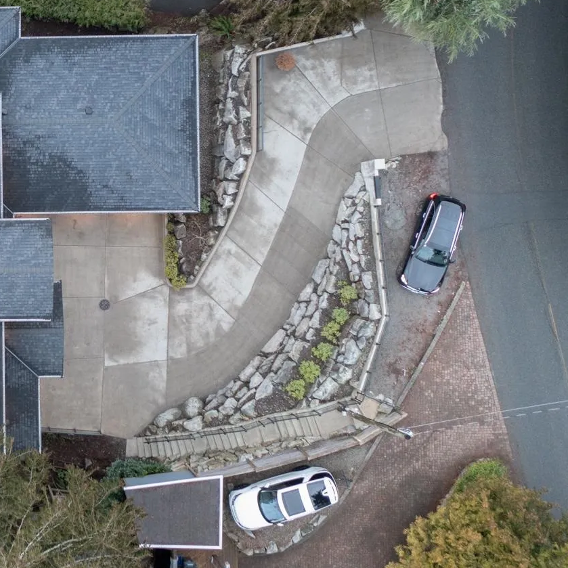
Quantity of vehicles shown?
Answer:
2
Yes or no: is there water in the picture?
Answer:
No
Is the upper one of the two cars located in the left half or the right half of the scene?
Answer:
right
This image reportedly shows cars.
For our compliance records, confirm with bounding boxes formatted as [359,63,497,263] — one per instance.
[227,463,339,530]
[395,193,469,297]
